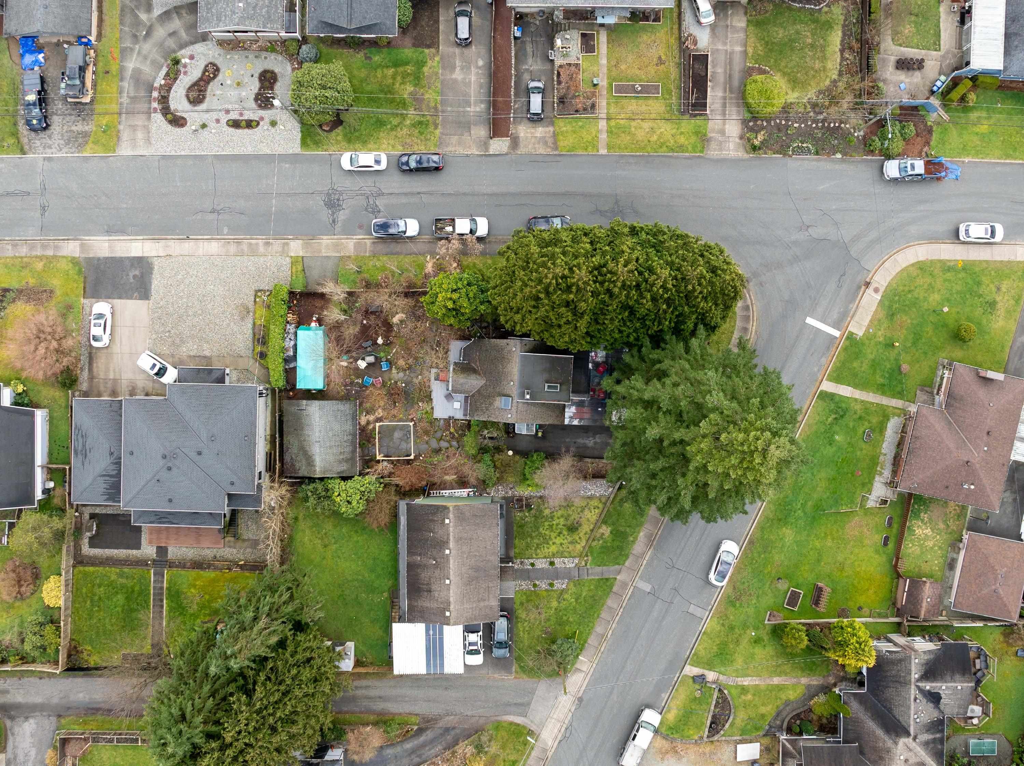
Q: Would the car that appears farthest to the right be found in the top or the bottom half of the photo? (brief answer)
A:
top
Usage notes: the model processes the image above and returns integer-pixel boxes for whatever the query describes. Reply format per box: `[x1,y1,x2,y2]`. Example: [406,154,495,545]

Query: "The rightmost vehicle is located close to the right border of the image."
[954,221,1003,243]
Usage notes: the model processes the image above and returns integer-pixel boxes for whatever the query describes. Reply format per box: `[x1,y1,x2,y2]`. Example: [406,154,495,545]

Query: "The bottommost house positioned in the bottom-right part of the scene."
[775,629,975,766]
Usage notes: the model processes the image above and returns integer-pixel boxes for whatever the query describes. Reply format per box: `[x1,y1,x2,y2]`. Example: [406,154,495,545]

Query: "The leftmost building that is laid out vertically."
[0,382,52,510]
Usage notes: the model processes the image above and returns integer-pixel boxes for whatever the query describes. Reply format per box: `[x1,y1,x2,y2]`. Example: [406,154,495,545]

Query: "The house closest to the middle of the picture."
[430,337,622,425]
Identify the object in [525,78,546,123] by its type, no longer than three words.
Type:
car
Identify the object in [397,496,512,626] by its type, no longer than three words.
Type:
house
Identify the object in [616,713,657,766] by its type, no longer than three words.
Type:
truck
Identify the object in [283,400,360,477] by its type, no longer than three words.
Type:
building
